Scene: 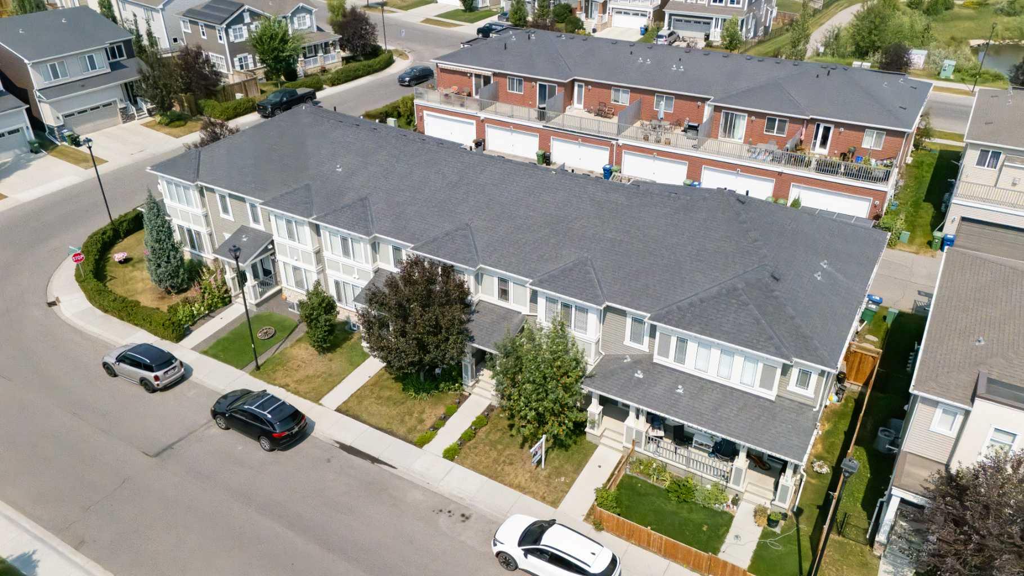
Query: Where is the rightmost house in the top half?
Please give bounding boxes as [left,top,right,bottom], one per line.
[942,80,1024,258]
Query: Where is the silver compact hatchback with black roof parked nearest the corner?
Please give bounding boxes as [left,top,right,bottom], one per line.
[103,341,184,397]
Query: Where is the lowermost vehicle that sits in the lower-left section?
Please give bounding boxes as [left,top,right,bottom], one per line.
[208,389,307,456]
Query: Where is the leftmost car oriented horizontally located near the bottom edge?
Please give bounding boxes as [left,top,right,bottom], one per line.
[485,516,625,576]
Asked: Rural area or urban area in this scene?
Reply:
urban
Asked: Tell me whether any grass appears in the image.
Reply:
Yes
